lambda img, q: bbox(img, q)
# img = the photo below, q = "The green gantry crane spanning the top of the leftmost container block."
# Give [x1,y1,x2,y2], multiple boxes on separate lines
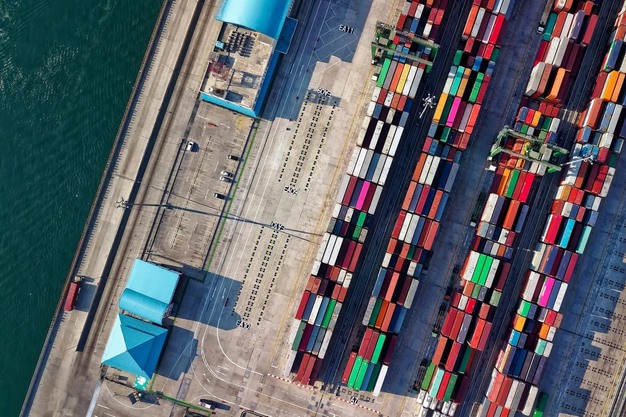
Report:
[370,20,443,87]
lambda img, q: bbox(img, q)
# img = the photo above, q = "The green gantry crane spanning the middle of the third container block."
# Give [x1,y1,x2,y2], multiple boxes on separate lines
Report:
[482,124,570,180]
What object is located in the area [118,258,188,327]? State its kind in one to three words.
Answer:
building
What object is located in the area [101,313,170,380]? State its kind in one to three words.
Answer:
building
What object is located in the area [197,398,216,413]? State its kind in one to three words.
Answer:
vehicle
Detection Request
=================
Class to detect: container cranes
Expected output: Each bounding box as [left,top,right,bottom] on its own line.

[482,124,570,180]
[370,20,443,87]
